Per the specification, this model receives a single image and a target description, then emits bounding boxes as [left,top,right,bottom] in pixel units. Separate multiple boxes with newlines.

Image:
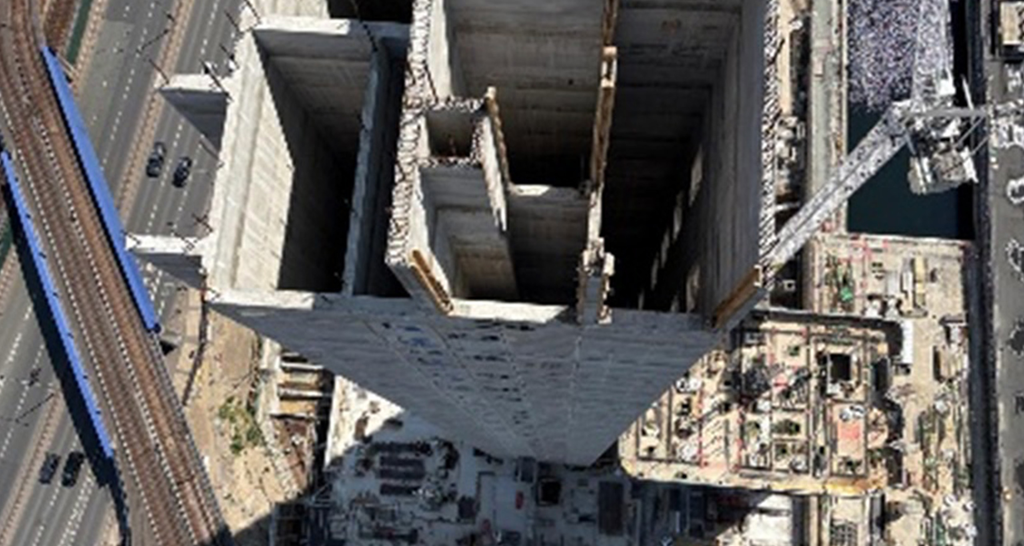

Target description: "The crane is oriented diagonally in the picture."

[780,0,1001,273]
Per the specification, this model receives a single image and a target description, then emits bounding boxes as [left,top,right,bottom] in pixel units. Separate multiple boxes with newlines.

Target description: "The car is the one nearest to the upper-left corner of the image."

[142,141,165,175]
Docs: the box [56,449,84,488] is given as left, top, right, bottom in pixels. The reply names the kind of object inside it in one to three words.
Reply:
car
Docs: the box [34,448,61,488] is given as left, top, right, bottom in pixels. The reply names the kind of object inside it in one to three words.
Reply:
car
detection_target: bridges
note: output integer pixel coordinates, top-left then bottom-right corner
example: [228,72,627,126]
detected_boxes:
[0,0,236,546]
